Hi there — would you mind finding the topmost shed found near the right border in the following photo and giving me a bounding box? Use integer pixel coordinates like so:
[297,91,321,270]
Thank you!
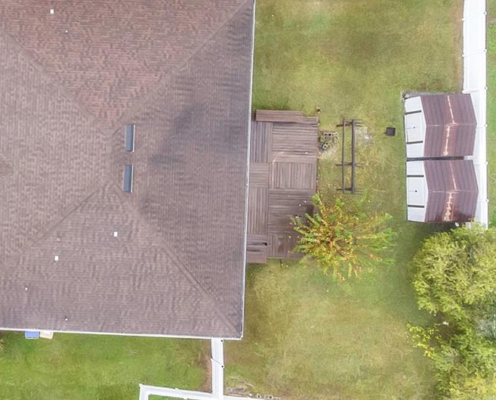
[404,91,482,157]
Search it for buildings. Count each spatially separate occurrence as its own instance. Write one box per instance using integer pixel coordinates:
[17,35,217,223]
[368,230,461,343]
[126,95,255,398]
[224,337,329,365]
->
[405,159,483,222]
[404,91,482,157]
[0,0,256,341]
